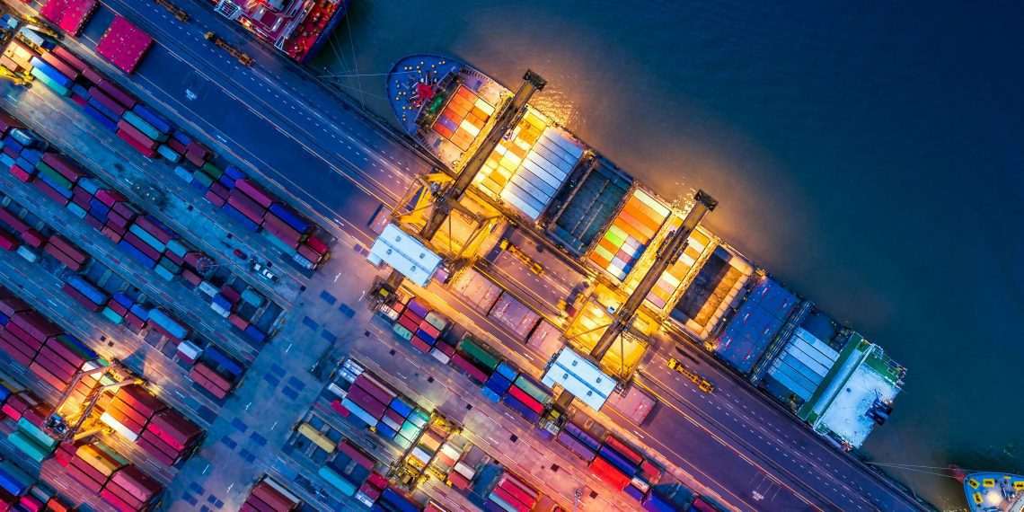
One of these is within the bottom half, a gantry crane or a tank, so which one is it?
gantry crane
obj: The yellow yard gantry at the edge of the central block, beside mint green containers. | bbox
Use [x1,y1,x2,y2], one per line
[388,408,467,500]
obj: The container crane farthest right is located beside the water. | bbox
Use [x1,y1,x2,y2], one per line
[540,191,718,423]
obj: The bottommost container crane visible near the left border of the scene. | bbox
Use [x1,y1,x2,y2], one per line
[38,355,142,446]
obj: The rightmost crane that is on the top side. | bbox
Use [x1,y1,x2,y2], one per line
[370,70,547,305]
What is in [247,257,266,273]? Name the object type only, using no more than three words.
vehicle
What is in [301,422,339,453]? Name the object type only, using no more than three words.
shipping container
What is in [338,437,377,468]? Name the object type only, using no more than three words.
shipping container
